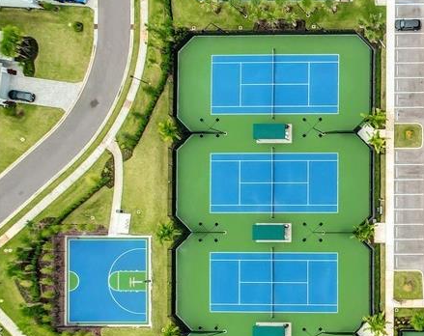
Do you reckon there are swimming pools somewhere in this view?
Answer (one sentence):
No, there appears to be no swimming pool in this shot.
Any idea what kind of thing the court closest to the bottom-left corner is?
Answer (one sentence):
It looks like the court closest to the bottom-left corner is a basketball court.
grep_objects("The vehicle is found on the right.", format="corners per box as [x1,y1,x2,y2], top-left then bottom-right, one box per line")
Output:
[395,17,421,31]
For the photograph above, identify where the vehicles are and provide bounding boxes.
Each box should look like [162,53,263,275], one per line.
[51,0,88,5]
[8,90,38,102]
[395,17,421,31]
